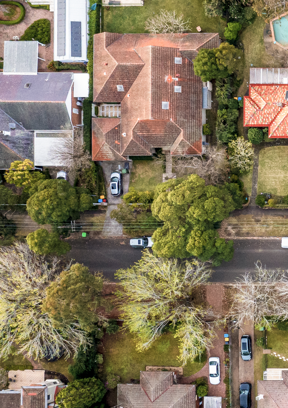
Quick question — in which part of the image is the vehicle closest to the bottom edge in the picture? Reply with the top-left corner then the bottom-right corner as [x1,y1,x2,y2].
[238,382,253,408]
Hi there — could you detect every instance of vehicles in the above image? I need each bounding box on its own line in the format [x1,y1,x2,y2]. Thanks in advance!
[238,382,253,408]
[109,171,125,197]
[56,168,70,191]
[280,238,288,249]
[207,357,222,384]
[128,236,156,249]
[239,335,253,360]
